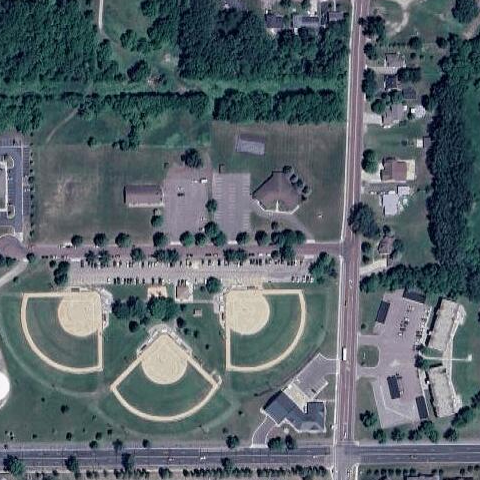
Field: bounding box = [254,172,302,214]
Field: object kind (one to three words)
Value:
building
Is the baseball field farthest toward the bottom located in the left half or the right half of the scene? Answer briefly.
left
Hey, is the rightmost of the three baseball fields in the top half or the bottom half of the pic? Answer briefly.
bottom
